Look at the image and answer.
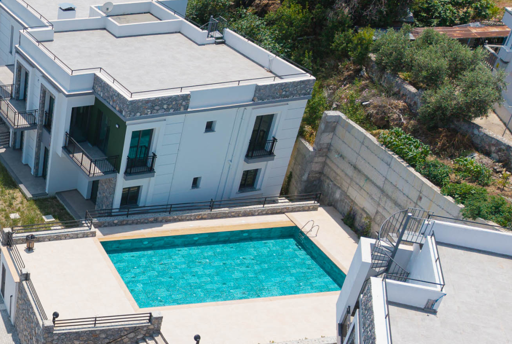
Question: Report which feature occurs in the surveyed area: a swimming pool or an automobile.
swimming pool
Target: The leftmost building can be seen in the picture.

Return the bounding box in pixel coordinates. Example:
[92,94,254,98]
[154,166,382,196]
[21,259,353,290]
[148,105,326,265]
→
[0,0,323,237]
